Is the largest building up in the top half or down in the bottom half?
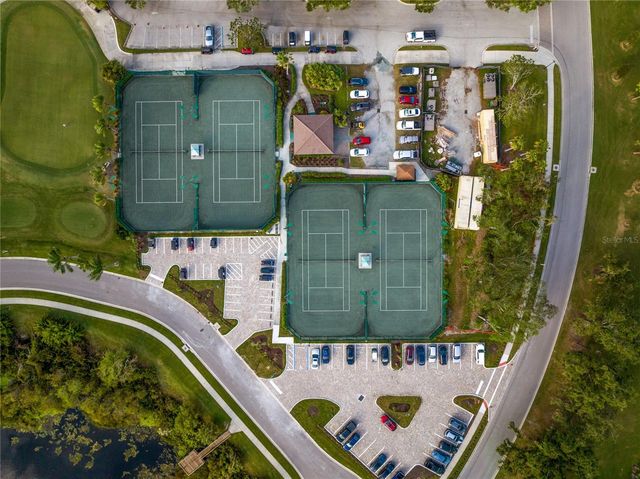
top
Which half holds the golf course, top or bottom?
top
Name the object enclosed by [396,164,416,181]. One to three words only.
shed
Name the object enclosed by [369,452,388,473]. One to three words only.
car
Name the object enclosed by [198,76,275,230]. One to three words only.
tennis court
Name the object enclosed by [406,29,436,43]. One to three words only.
vehicle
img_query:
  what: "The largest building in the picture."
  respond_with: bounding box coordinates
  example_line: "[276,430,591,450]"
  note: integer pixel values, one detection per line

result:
[291,113,333,154]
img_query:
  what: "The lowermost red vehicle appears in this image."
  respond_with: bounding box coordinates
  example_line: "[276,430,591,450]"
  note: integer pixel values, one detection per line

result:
[380,413,398,431]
